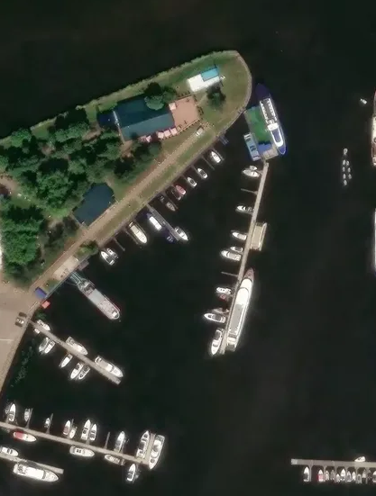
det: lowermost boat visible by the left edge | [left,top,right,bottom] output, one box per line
[13,462,59,479]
